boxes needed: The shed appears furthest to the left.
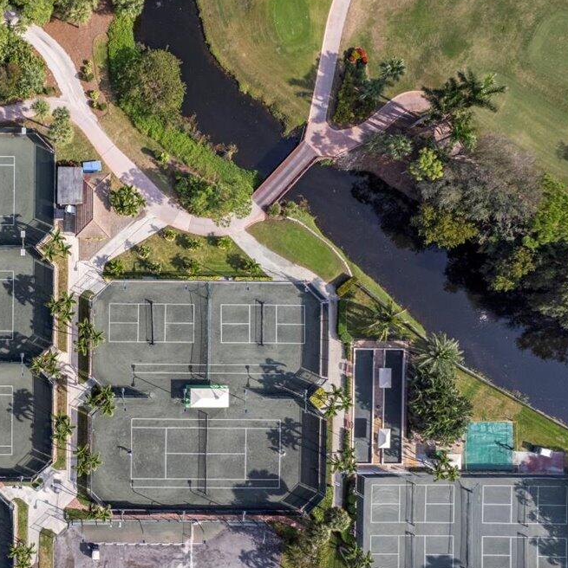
[58,164,82,204]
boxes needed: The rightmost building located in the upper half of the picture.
[76,173,111,238]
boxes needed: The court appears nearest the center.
[206,283,319,398]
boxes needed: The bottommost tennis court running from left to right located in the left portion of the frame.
[89,398,320,510]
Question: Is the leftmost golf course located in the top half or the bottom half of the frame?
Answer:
top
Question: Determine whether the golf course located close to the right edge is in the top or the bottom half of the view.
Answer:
top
